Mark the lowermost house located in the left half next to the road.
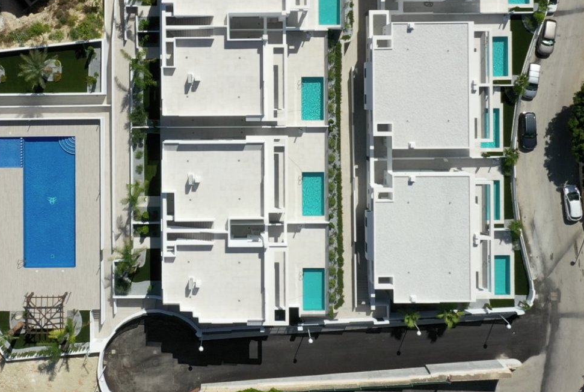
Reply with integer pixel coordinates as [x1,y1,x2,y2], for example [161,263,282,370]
[163,231,291,333]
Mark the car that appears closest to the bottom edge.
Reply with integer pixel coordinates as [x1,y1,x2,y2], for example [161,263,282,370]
[561,184,583,223]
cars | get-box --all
[561,184,583,223]
[521,63,541,100]
[545,0,561,15]
[534,19,557,59]
[517,113,537,151]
